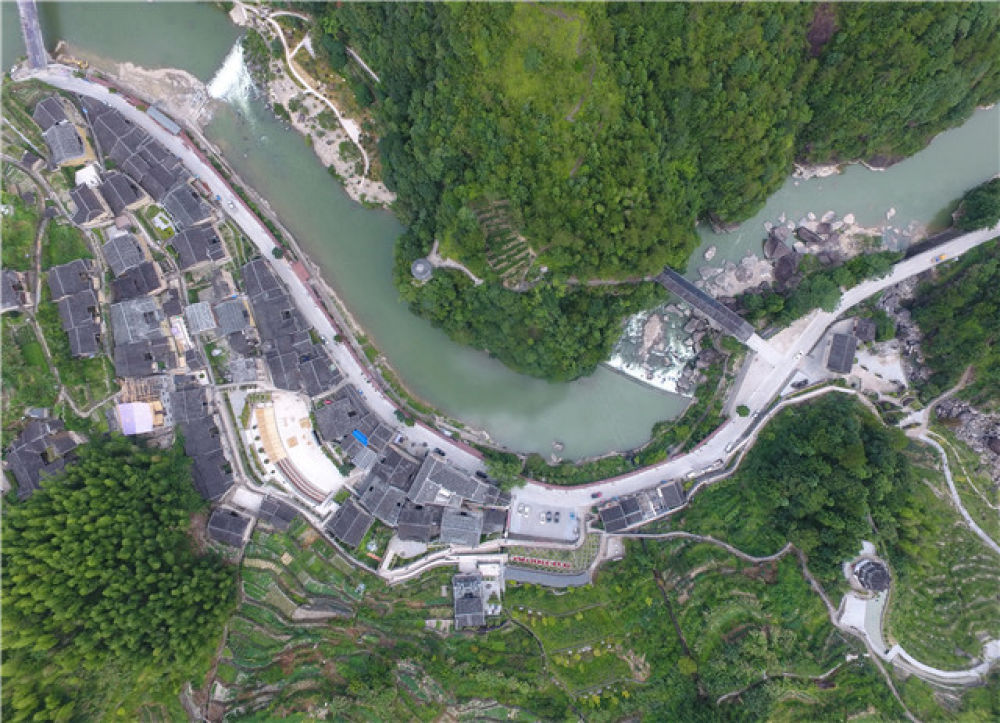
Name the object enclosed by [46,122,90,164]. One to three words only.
house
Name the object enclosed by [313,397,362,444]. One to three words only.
house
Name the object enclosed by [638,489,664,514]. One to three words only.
building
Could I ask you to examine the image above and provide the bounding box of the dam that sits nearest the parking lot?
[596,362,697,400]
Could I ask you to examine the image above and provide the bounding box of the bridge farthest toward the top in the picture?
[14,0,49,70]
